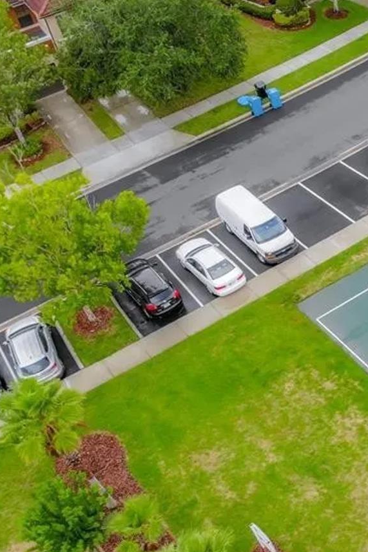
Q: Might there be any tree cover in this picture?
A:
Yes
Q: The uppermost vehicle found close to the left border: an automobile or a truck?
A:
automobile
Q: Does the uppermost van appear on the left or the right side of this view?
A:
right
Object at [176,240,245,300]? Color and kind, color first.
white car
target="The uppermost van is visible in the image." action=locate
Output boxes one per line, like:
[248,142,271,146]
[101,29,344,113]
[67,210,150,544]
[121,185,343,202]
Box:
[214,187,299,268]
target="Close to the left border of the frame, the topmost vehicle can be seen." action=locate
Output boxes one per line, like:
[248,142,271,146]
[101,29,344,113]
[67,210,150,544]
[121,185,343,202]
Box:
[4,320,75,384]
